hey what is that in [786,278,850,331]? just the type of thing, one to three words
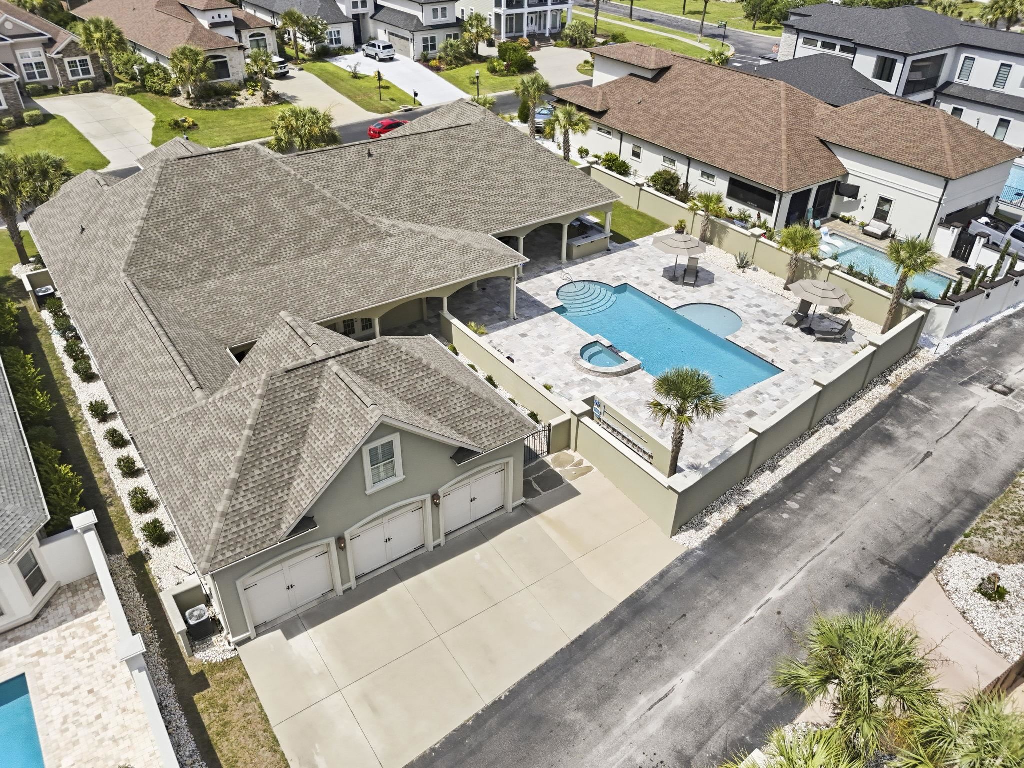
umbrella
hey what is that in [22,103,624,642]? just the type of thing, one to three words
house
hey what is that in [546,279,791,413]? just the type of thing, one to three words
swimming pool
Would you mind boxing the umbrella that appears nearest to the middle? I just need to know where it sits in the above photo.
[652,232,706,280]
